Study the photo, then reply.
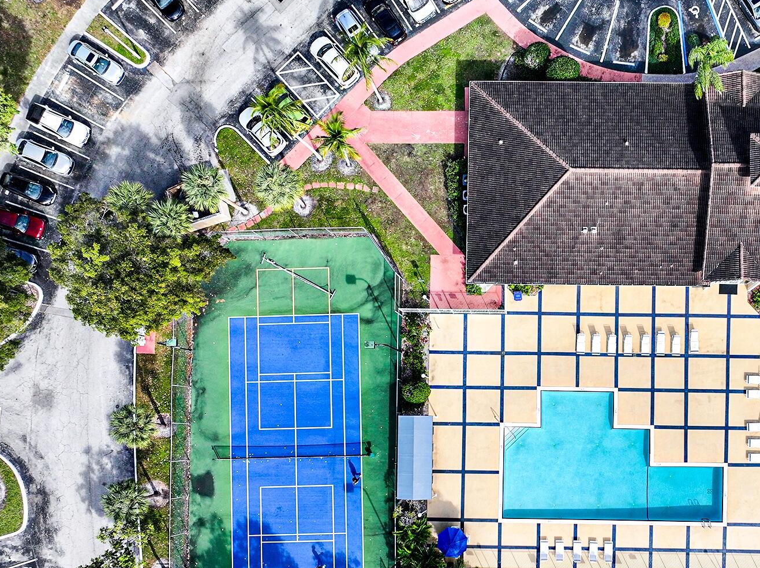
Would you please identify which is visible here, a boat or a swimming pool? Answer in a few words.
swimming pool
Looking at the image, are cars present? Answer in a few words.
Yes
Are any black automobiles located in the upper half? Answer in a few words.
Yes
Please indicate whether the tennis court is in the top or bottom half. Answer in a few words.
bottom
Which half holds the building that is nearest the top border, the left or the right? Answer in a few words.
right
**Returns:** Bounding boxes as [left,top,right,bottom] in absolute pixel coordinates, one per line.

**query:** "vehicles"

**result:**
[363,0,409,51]
[17,138,78,178]
[24,102,94,150]
[149,0,186,21]
[0,207,52,243]
[403,0,436,27]
[0,169,60,210]
[240,105,289,159]
[332,8,377,58]
[733,0,760,38]
[268,84,313,138]
[312,35,361,93]
[68,41,127,88]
